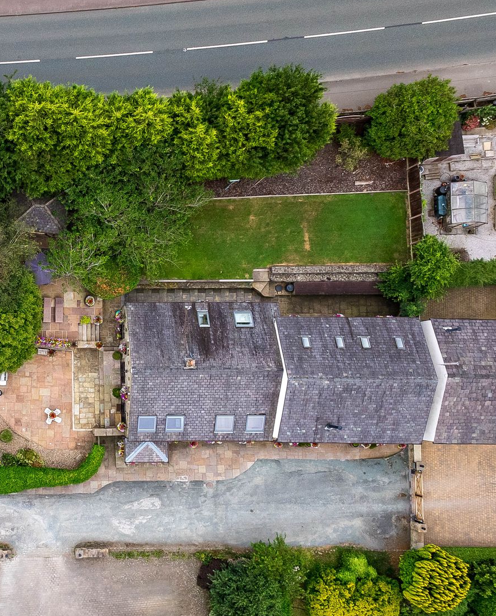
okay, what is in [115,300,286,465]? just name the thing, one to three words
house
